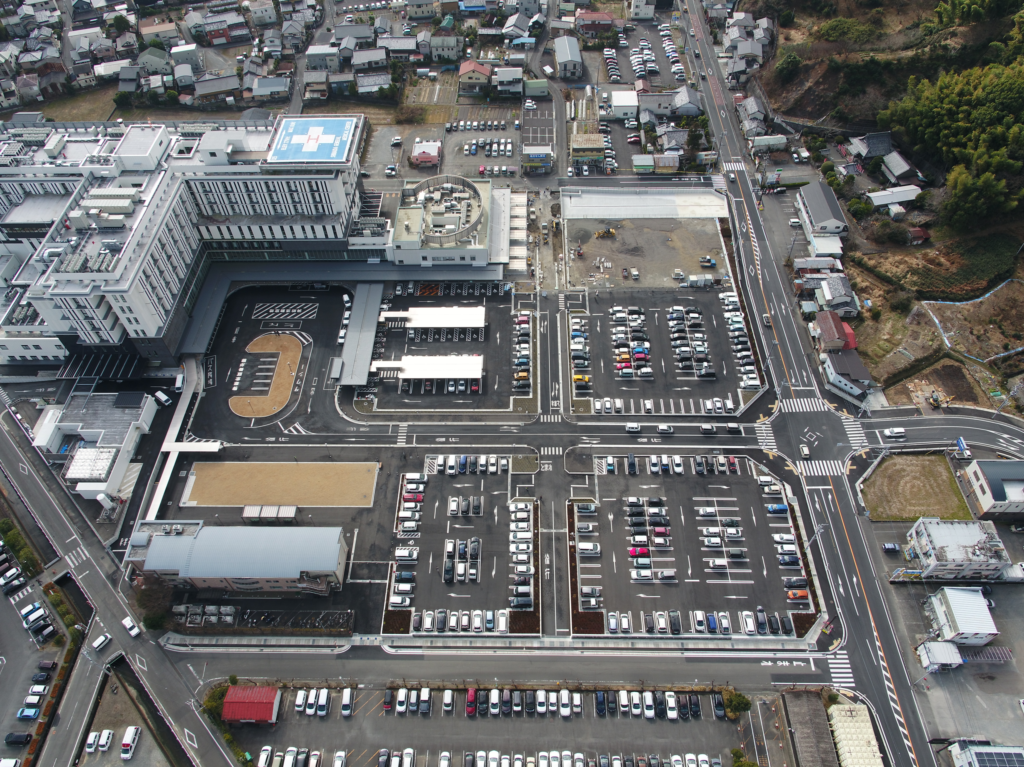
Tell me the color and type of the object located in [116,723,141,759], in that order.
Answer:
white vehicle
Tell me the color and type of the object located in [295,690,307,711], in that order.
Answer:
white vehicle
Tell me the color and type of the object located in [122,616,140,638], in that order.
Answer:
white car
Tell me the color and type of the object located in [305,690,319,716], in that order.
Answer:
white car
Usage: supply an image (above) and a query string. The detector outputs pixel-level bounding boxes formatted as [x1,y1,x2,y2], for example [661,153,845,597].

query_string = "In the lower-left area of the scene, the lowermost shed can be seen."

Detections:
[221,686,280,723]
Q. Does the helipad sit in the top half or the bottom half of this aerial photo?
top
